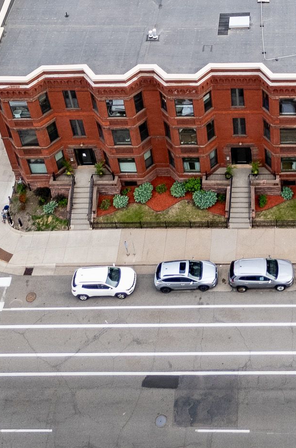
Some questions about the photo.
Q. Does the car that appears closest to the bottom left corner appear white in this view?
Yes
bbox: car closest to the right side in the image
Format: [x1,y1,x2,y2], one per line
[227,257,296,296]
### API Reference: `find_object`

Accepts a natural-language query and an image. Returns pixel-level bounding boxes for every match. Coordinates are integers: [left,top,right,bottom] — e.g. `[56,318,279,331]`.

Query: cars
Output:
[227,257,296,296]
[70,262,142,300]
[152,257,222,296]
